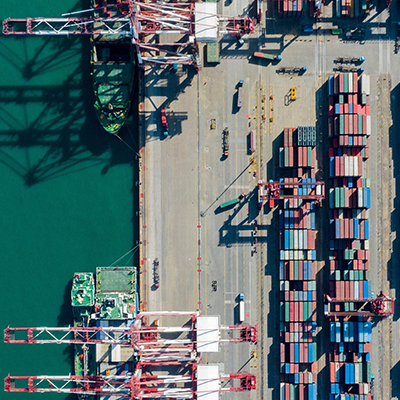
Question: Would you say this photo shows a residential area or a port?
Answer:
port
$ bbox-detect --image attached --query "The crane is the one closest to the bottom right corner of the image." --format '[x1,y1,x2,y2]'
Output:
[322,293,396,319]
